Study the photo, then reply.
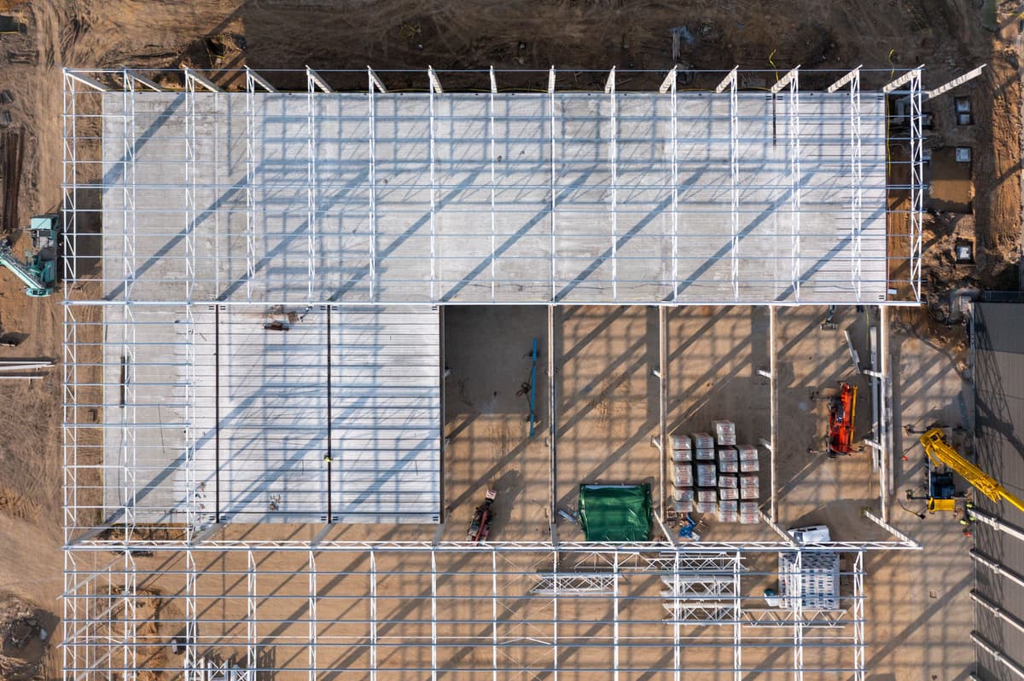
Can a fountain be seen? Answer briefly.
No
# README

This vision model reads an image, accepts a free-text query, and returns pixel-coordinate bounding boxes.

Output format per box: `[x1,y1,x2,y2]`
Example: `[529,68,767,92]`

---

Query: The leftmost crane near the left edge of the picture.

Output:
[0,213,64,297]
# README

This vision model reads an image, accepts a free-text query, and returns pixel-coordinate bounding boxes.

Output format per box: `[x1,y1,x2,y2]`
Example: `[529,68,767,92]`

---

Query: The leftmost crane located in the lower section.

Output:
[805,381,862,456]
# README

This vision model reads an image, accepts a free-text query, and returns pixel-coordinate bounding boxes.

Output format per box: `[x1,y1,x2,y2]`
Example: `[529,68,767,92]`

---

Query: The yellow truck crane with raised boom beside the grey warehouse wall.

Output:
[901,417,1024,518]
